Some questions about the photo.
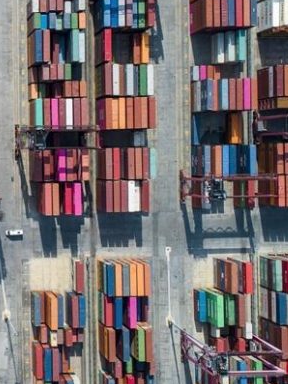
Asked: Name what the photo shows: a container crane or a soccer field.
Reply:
container crane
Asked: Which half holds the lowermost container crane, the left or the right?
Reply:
right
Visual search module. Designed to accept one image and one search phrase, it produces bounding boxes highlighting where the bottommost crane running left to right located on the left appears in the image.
[16,123,104,155]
